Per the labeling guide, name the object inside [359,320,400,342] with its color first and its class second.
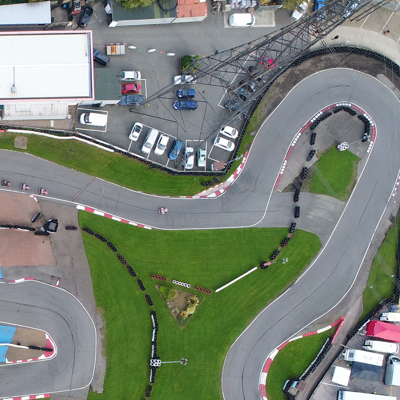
red tent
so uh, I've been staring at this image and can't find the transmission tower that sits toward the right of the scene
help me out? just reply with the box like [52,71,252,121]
[127,0,357,169]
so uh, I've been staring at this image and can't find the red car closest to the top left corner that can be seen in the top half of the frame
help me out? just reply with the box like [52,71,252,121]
[121,82,141,95]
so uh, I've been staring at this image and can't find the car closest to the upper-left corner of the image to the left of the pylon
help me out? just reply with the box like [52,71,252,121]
[75,7,90,29]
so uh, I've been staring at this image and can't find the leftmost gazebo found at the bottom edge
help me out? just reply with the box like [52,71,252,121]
[327,365,352,386]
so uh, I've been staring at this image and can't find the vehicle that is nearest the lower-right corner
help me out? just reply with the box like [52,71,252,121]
[383,355,400,386]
